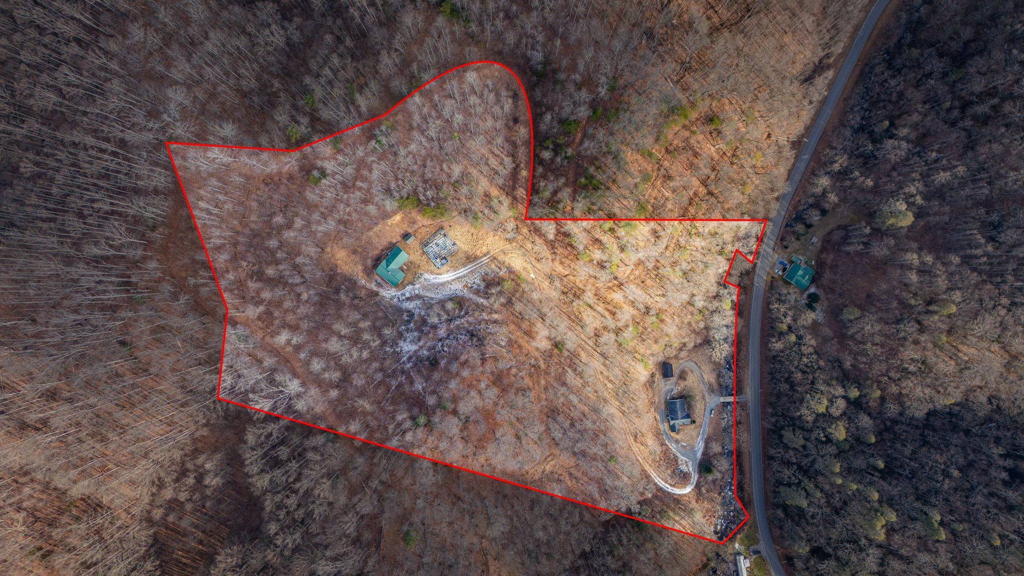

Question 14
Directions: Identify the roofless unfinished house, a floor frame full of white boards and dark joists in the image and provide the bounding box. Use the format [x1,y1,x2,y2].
[421,227,460,269]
